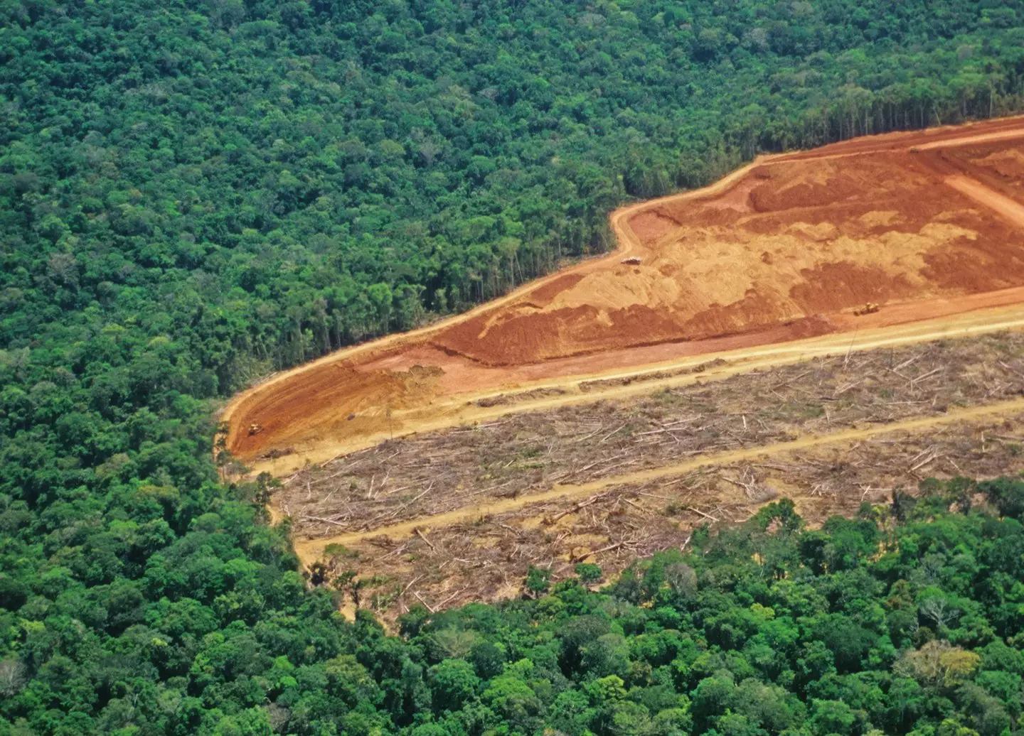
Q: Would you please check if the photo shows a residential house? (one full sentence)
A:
No, no residential house can be seen from above.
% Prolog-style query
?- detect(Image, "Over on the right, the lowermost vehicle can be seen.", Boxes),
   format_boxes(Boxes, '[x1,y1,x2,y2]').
[855,305,877,317]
